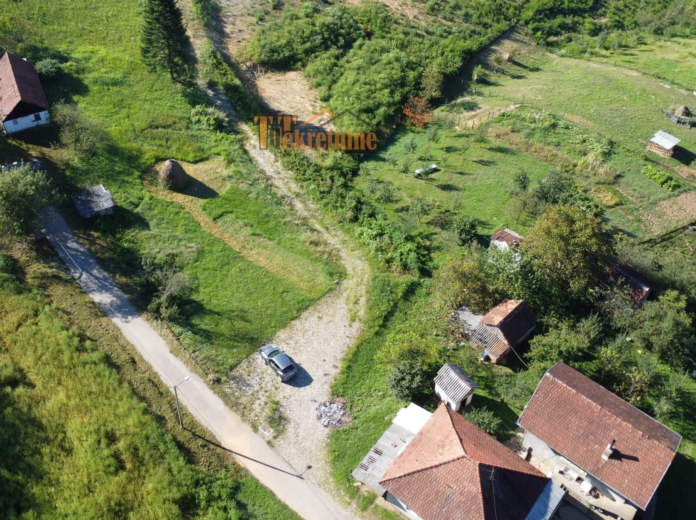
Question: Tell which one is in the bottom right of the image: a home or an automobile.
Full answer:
There is a home in the bottom right of the image.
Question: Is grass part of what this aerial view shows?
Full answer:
Yes, the picture does contain grass.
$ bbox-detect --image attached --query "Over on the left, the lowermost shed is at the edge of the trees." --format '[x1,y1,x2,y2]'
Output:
[72,184,115,227]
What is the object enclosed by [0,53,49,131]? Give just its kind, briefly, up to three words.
house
